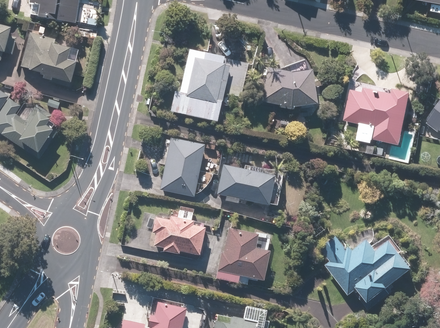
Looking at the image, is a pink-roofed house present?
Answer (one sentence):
Yes, a pink-roofed house can be made out from above.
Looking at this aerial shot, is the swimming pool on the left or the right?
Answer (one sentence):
It is on the right.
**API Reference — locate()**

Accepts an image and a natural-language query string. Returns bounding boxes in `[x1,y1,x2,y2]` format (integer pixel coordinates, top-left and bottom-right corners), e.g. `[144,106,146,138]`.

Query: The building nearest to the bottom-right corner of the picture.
[324,236,410,304]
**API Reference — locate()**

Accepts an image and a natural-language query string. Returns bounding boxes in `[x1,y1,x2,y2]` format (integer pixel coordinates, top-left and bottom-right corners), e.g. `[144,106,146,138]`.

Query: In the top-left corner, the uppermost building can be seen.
[30,0,80,24]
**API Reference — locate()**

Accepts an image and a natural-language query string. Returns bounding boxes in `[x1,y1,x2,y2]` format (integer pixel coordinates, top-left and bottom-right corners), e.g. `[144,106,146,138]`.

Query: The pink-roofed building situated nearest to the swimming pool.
[343,86,408,146]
